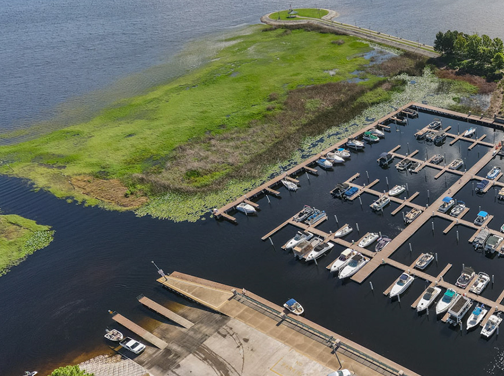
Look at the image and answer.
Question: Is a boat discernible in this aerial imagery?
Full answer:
Yes, you can see a boat in this photo.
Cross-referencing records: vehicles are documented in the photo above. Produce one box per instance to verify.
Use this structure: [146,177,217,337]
[119,339,147,352]
[330,371,350,376]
